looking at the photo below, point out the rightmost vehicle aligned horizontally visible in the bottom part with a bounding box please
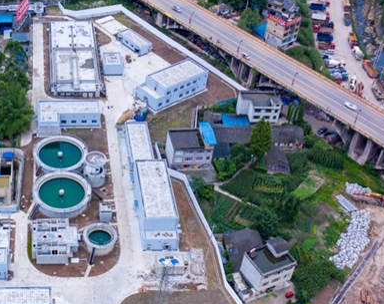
[354,189,384,204]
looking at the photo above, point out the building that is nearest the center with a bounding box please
[166,125,218,170]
